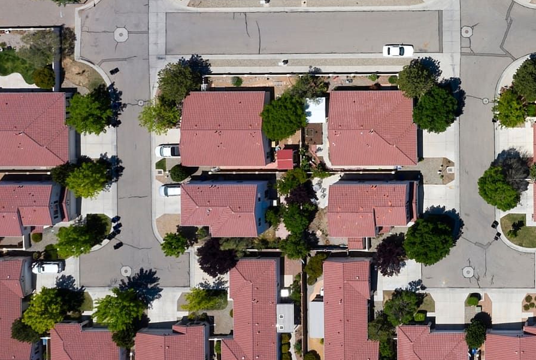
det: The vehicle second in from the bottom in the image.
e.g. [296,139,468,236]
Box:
[157,184,180,198]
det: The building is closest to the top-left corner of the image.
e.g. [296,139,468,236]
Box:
[0,92,76,167]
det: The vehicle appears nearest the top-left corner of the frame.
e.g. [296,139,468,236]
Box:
[153,144,181,159]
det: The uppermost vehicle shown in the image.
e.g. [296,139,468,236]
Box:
[383,43,413,57]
